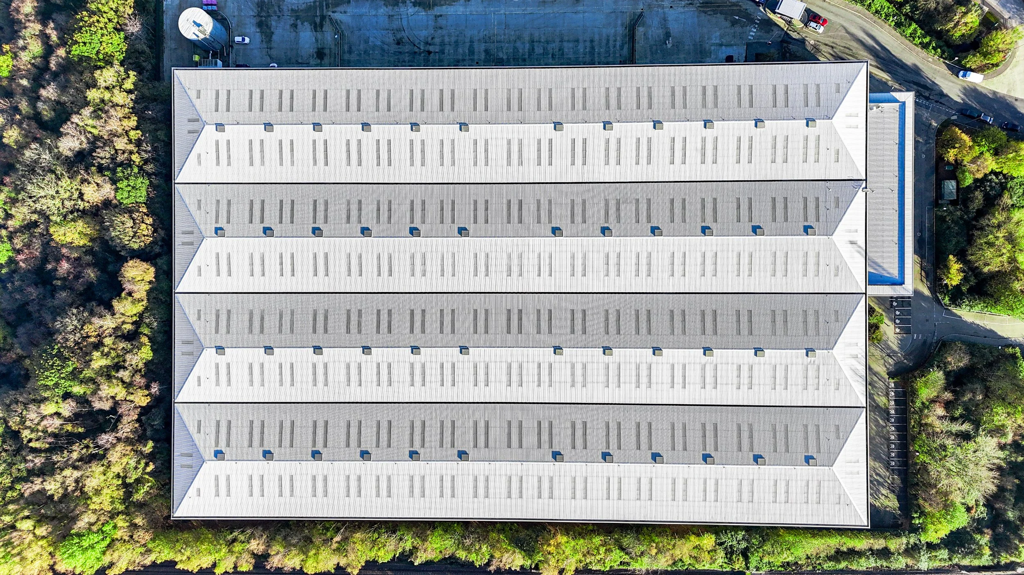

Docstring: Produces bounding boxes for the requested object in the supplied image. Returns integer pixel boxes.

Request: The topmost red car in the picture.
[809,13,827,26]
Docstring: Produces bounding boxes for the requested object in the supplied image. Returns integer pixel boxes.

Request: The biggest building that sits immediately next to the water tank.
[171,59,870,529]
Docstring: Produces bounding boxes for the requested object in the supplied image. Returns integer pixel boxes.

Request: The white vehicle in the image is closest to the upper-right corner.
[959,70,986,82]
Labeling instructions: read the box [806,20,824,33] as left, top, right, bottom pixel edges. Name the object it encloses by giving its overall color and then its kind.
white vehicle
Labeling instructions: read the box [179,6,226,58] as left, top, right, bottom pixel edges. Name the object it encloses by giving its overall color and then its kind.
white water tank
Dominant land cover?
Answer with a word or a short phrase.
buildings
